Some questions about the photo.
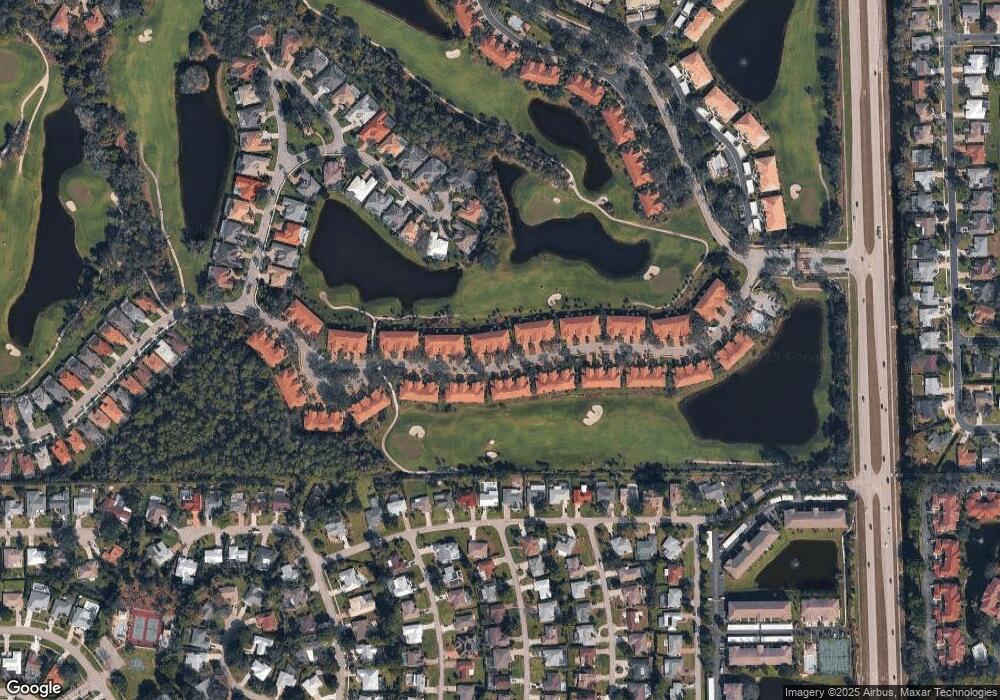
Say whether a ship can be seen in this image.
No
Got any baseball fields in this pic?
No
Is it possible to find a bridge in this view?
No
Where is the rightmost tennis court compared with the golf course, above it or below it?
below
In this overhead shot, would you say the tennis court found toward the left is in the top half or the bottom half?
bottom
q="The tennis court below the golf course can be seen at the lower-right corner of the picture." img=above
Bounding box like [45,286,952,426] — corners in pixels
[819,638,851,676]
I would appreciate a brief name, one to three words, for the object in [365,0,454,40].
pond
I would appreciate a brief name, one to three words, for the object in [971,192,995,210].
house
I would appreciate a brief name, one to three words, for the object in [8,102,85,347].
pond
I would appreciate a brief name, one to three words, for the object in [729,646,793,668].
building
